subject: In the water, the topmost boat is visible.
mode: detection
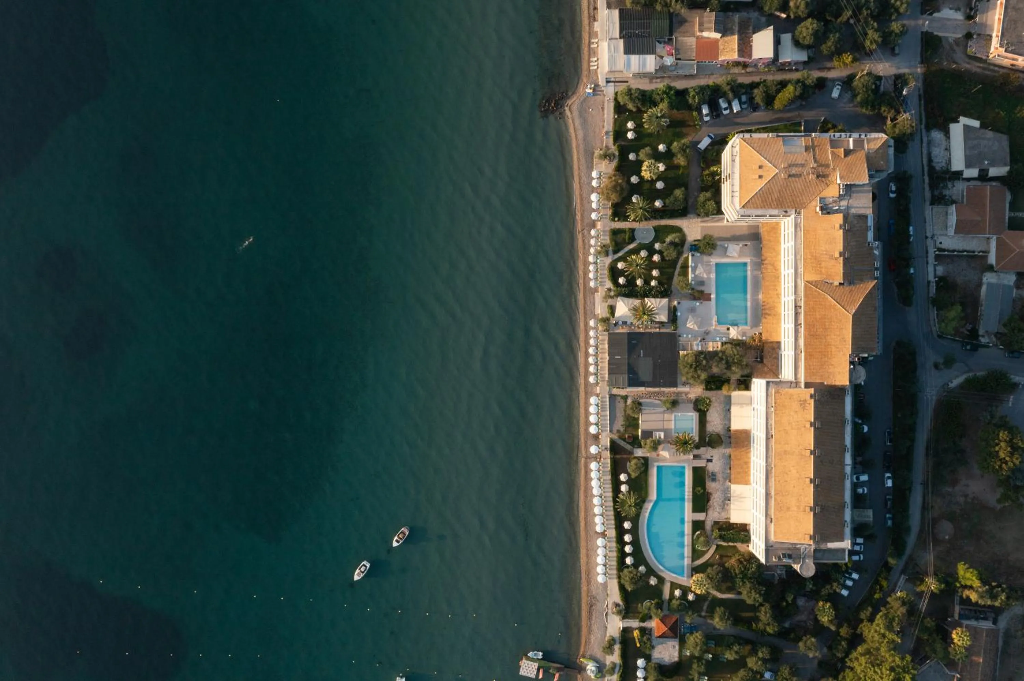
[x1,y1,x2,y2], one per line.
[394,527,410,547]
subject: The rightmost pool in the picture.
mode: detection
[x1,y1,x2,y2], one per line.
[678,243,760,342]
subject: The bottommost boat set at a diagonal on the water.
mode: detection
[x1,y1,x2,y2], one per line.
[355,560,371,580]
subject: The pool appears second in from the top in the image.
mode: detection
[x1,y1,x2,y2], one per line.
[640,404,698,449]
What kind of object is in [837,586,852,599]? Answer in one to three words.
vehicle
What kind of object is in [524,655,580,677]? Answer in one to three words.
pier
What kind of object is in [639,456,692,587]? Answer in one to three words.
swimming pool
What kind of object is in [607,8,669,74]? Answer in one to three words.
building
